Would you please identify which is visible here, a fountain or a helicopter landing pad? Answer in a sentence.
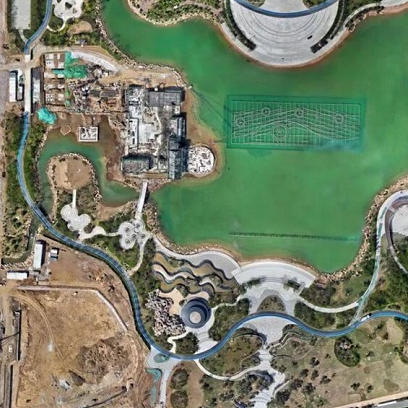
I can see a fountain in this picture.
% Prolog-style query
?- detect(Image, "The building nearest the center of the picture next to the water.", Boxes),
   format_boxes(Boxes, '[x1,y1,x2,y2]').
[169,150,186,180]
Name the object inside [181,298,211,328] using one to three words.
building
